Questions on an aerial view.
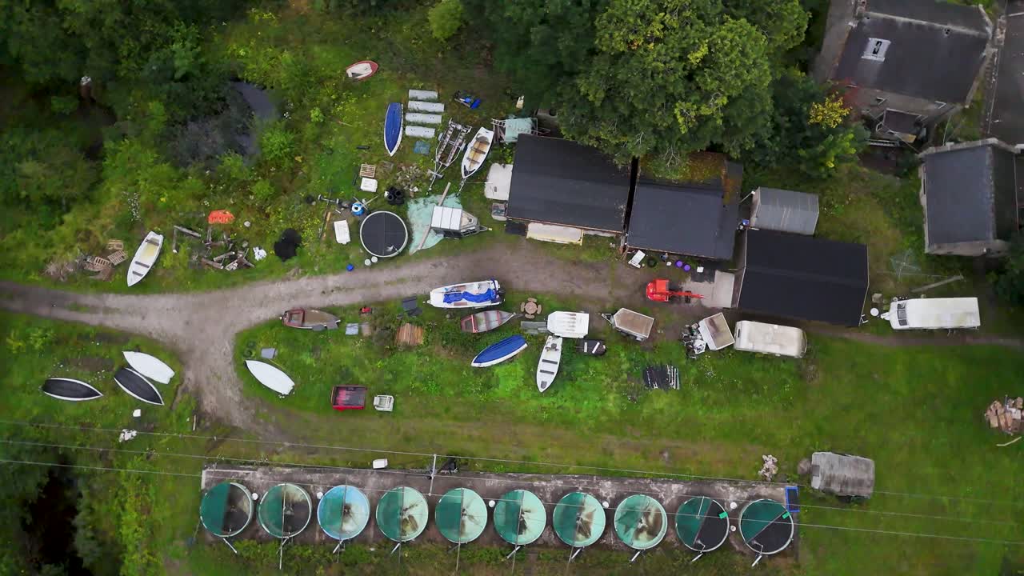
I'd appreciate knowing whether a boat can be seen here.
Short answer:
Yes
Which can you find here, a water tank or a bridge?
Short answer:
water tank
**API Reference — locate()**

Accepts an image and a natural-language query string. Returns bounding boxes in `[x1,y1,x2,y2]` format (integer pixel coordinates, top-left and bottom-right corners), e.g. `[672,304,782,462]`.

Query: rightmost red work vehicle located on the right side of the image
[645,278,711,305]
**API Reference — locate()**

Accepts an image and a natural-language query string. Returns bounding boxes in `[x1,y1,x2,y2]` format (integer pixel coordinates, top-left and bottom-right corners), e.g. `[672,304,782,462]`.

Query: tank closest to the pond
[360,211,408,257]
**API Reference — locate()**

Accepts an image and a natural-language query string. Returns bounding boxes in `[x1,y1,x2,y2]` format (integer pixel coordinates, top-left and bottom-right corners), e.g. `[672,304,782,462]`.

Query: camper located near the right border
[881,298,981,336]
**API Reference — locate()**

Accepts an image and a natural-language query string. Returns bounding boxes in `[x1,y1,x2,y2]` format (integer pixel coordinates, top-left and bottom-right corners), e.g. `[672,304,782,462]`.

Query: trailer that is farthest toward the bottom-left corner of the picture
[331,386,368,413]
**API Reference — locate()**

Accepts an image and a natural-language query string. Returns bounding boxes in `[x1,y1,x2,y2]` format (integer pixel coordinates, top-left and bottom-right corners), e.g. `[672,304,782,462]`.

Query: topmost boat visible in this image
[345,62,379,81]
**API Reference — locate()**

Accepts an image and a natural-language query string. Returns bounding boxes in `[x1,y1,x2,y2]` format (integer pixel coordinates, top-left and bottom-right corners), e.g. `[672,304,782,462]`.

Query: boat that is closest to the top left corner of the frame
[129,232,164,286]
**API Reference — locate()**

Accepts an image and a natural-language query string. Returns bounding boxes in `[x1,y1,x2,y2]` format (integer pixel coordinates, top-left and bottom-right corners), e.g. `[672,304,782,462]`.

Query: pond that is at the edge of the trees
[179,85,279,169]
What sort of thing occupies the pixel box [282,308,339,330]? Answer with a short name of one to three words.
boat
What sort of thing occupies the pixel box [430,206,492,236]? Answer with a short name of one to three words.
trailer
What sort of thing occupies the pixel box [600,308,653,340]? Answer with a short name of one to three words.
trailer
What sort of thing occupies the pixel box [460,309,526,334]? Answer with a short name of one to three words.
boat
